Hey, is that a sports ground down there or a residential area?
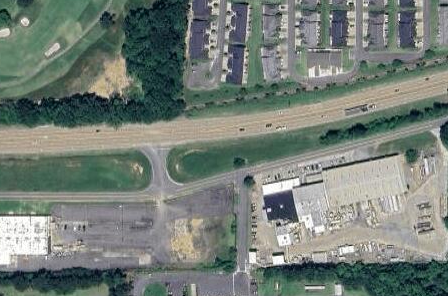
residential area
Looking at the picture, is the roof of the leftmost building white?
Yes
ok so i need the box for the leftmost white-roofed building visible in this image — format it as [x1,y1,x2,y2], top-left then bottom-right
[0,215,50,264]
